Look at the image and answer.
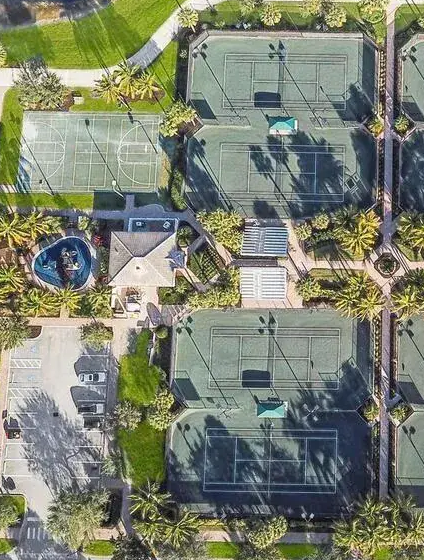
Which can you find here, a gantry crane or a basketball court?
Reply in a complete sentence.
The one in the frame is a basketball court.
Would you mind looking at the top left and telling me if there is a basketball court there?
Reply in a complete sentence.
Yes, a basketball court shows up at the top left.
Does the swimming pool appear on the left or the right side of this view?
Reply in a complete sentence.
The swimming pool is on the left side of the image.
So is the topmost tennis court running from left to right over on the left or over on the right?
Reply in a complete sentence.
It is on the right.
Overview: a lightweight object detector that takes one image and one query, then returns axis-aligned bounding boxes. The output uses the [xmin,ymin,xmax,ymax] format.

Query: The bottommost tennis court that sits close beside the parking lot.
[166,409,372,518]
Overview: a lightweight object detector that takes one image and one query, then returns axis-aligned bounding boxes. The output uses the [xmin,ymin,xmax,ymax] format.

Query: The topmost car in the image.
[78,372,107,385]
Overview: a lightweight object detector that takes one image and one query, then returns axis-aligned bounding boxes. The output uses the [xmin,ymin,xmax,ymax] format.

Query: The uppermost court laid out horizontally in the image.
[187,34,375,125]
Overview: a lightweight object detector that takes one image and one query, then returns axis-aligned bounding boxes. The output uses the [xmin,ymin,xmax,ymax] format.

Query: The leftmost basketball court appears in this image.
[17,112,161,193]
